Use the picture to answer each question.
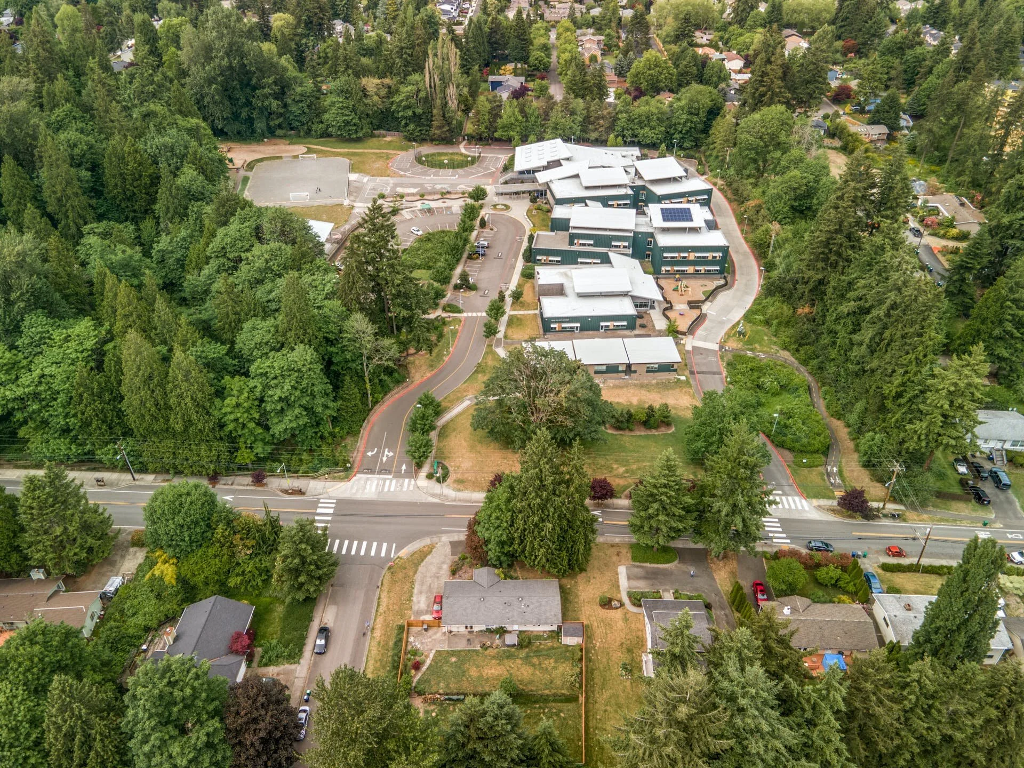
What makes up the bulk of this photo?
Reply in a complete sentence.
The scene is dominated by trees.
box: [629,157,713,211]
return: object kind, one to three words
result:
building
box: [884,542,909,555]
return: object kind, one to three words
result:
vehicle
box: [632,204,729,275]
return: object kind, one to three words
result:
building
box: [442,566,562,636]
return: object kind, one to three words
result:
house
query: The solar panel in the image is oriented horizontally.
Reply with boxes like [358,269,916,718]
[660,207,694,221]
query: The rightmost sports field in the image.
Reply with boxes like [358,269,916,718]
[244,157,349,203]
